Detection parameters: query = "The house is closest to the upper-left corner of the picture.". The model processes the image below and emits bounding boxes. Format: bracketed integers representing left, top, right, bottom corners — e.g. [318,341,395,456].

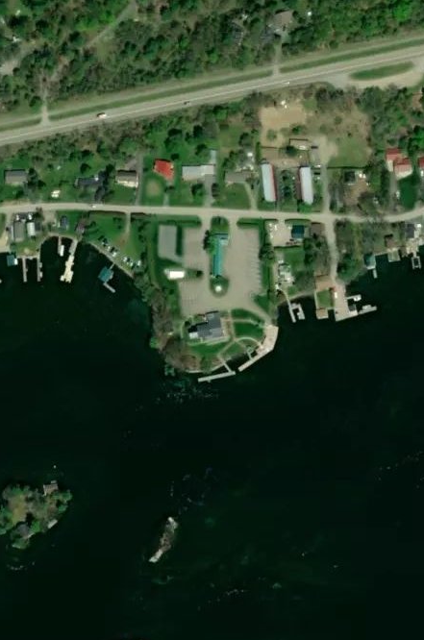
[5,170,27,186]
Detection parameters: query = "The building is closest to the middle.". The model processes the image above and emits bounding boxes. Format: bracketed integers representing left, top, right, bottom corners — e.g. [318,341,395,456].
[188,312,222,339]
